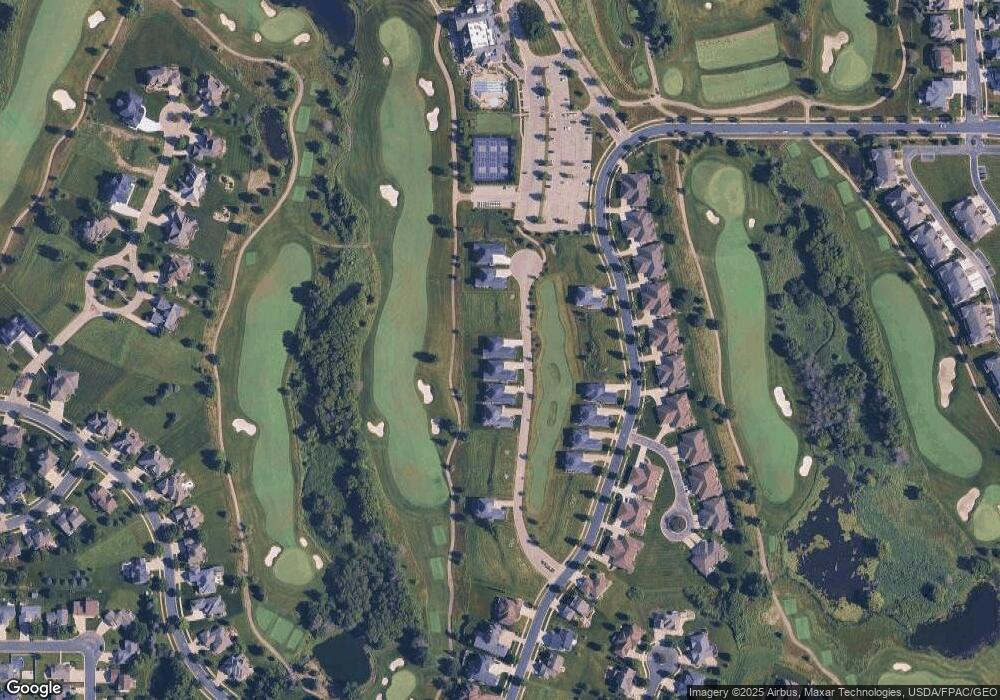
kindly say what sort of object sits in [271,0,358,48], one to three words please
pond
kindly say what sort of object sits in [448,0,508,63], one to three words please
building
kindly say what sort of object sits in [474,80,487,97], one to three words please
swimming pool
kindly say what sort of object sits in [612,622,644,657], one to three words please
house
